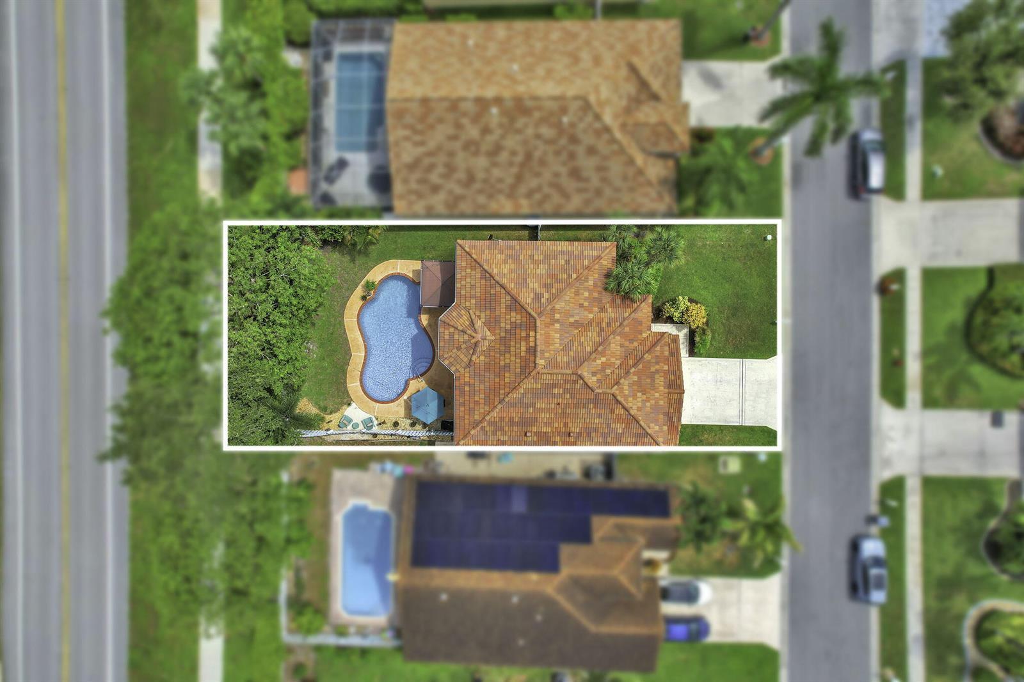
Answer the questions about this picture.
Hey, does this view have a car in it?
Yes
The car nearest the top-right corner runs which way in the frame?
vertically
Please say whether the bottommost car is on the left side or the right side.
right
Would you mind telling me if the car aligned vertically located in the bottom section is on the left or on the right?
right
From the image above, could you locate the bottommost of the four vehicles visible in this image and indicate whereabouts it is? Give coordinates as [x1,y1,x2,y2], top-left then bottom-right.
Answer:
[657,609,710,641]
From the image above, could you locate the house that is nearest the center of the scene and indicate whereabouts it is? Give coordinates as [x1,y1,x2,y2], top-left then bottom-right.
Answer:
[436,238,686,452]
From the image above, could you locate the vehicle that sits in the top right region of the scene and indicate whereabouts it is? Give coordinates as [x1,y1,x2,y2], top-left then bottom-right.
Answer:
[850,130,885,198]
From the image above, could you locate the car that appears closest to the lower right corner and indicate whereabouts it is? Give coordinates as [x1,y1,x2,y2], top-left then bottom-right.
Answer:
[850,532,884,601]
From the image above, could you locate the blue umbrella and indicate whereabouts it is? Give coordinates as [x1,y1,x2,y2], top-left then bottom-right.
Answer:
[411,386,445,425]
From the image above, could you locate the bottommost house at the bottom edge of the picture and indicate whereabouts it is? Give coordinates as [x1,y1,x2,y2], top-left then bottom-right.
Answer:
[395,480,682,671]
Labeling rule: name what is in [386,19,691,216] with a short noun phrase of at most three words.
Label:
house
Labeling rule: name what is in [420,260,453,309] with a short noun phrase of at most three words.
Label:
gazebo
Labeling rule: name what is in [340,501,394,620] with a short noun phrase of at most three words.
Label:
swimming pool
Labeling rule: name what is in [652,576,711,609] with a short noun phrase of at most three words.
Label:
car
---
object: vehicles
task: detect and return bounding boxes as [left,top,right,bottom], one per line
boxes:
[657,609,710,641]
[850,130,885,198]
[850,532,884,601]
[652,576,711,609]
